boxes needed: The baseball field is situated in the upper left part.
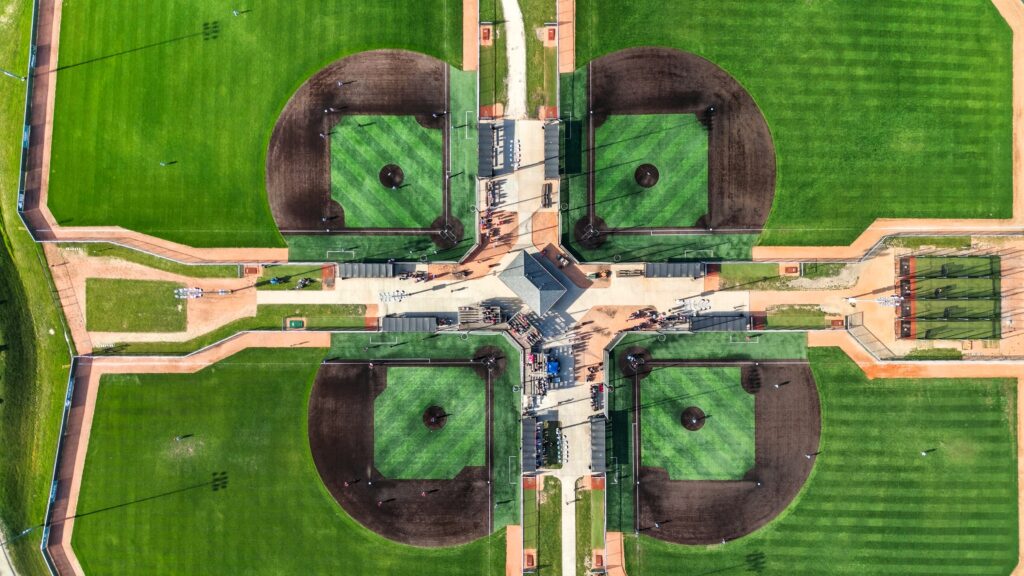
[24,0,478,263]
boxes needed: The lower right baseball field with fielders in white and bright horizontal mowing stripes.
[606,331,1024,576]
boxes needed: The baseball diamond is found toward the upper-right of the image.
[559,0,1024,262]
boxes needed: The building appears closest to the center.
[497,248,567,318]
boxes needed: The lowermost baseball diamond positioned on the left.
[47,332,522,576]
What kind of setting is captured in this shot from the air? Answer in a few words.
sports ground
